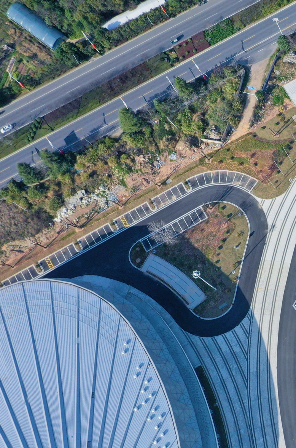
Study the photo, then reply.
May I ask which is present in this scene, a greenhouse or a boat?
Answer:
greenhouse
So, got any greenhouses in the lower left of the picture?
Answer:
No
